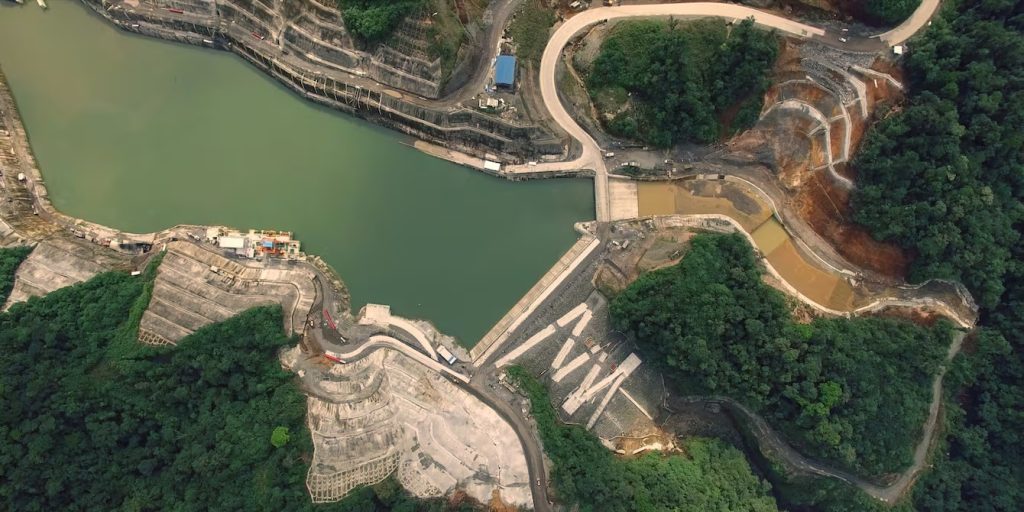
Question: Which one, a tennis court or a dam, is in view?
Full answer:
It is a dam that can be seen here.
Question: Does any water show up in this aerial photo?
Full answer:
Yes, the picture does contain water.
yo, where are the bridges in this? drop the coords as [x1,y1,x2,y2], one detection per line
[594,180,609,223]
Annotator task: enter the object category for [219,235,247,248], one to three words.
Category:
building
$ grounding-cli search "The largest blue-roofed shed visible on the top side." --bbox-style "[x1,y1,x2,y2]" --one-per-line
[496,55,516,88]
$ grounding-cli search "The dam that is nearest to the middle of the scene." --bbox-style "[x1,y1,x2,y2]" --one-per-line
[471,235,665,441]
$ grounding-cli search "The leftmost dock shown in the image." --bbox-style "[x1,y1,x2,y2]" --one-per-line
[415,141,485,171]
